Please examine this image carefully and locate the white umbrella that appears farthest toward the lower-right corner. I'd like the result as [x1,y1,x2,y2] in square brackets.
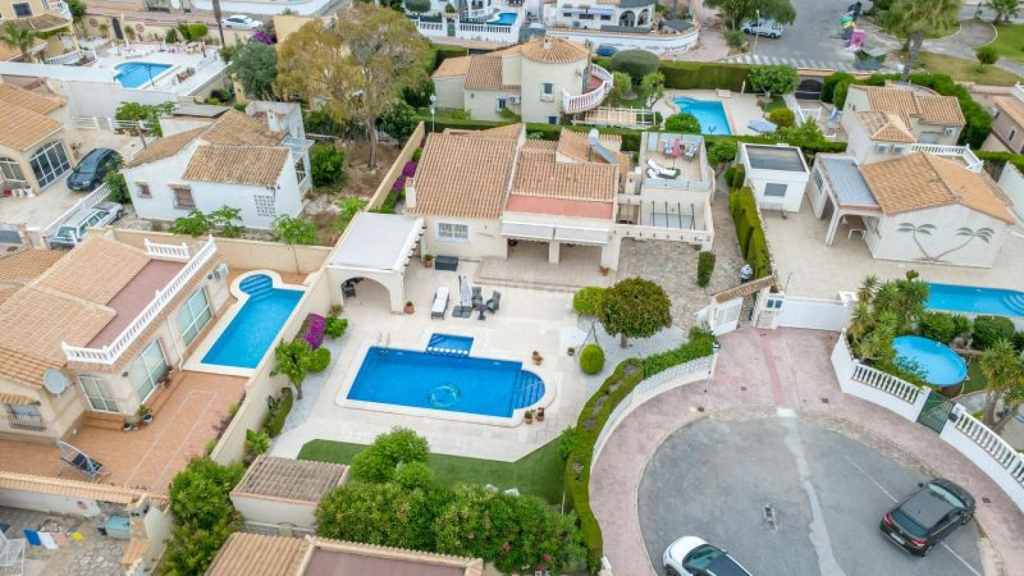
[556,323,600,356]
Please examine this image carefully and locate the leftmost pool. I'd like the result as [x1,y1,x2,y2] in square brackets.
[108,61,179,89]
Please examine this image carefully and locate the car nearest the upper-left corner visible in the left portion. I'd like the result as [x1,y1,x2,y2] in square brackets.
[71,145,125,186]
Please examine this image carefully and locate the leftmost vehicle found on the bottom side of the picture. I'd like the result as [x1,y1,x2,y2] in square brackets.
[662,536,761,576]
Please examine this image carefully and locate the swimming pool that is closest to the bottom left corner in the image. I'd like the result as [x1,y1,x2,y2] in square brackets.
[182,270,311,377]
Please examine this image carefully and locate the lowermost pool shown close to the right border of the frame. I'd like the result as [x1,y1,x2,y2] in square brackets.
[878,334,976,406]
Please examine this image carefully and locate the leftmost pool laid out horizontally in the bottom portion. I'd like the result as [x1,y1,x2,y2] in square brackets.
[336,325,557,427]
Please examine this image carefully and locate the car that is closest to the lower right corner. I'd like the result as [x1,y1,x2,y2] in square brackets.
[883,477,977,557]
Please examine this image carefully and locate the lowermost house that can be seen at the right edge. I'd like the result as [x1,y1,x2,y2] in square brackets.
[805,149,1018,268]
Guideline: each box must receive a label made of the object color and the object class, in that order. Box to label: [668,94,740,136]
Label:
blue swimming pool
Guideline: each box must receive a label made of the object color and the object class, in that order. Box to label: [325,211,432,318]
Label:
white gazebo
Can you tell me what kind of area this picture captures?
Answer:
residential area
